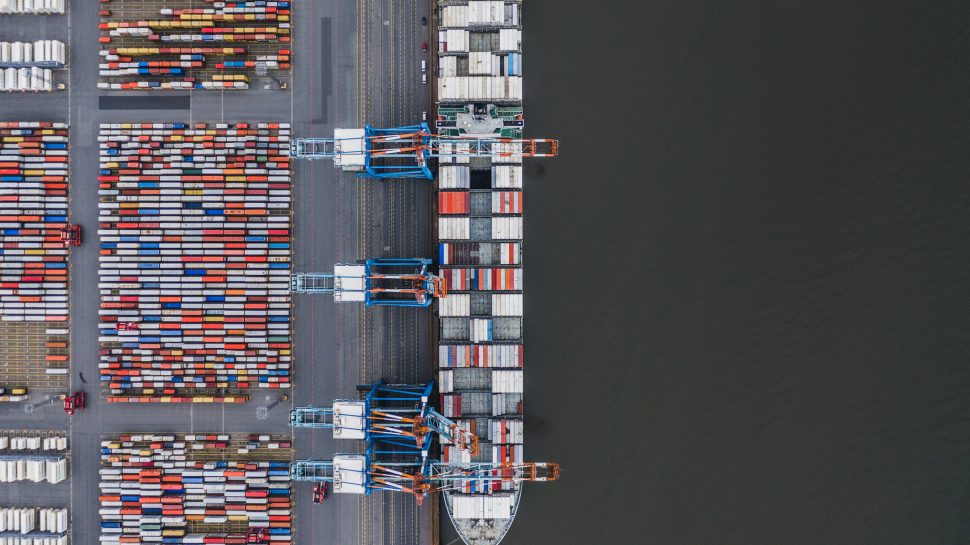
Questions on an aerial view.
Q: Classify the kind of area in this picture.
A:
port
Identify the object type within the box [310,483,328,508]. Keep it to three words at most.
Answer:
work vehicle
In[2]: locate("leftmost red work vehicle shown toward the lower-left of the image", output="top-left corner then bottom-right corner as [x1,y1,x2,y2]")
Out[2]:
[62,393,84,416]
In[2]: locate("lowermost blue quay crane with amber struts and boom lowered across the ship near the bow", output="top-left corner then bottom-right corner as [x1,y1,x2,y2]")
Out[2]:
[289,427,562,499]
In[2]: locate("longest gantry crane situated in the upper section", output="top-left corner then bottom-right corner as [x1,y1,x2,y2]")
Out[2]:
[289,122,562,187]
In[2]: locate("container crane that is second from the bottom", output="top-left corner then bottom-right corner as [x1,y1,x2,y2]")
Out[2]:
[289,375,482,463]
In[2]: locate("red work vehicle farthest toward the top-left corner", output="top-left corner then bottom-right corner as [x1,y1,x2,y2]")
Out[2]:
[58,225,81,245]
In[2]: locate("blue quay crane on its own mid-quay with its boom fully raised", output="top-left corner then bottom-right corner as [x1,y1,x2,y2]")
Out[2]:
[289,257,449,306]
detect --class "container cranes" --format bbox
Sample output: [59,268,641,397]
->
[289,257,449,306]
[289,375,482,463]
[289,122,562,187]
[289,427,562,499]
